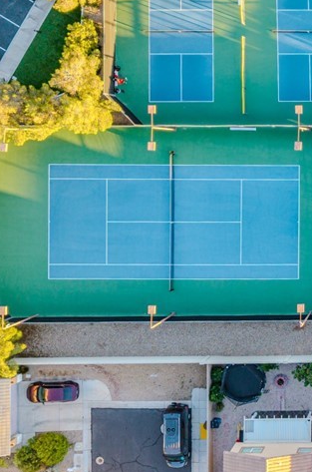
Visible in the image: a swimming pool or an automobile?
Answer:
automobile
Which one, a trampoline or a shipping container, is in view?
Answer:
trampoline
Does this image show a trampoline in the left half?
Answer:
No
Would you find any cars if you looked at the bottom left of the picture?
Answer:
Yes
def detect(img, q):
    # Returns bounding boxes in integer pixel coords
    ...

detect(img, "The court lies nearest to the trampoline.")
[0,127,312,315]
